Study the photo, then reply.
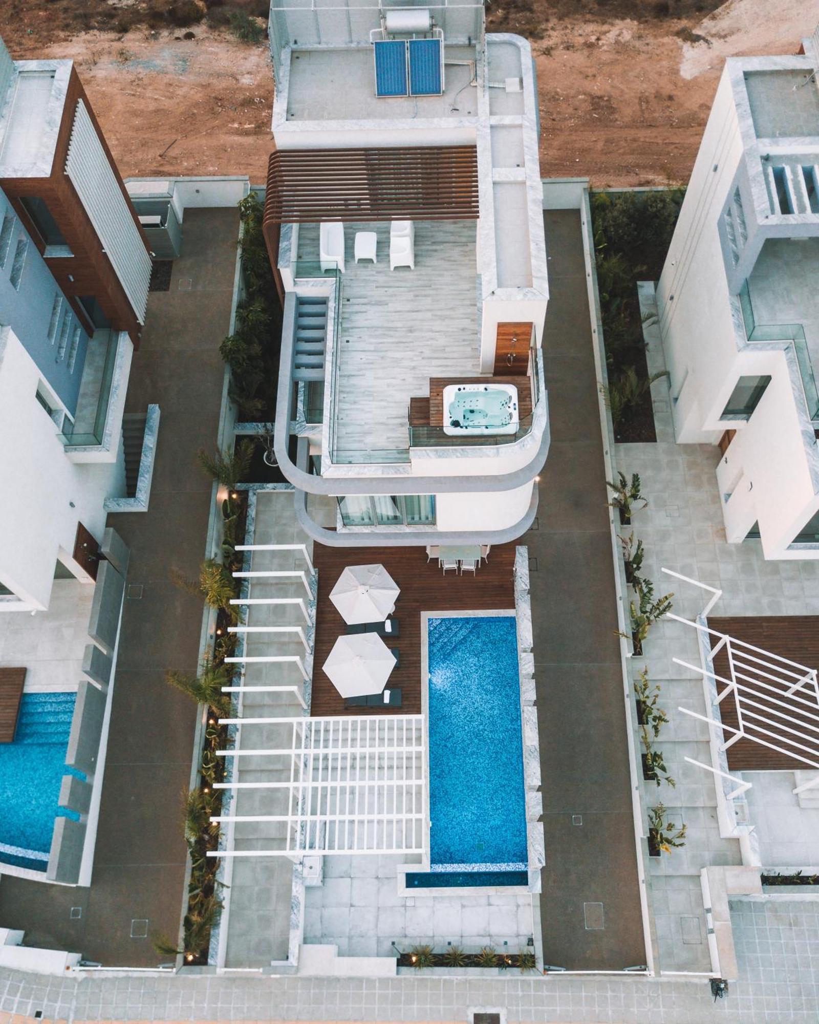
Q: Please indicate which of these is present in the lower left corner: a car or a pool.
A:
pool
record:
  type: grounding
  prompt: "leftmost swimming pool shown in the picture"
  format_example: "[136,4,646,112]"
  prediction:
[0,682,101,885]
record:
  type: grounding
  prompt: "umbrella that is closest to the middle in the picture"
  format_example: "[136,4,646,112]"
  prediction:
[328,563,401,628]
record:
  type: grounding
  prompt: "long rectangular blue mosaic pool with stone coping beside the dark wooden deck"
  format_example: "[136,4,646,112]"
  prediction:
[397,610,528,896]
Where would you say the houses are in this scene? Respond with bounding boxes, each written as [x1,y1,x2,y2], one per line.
[0,0,152,623]
[266,32,558,548]
[659,0,819,560]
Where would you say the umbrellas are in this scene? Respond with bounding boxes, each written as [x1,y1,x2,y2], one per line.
[322,631,397,699]
[328,563,401,628]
